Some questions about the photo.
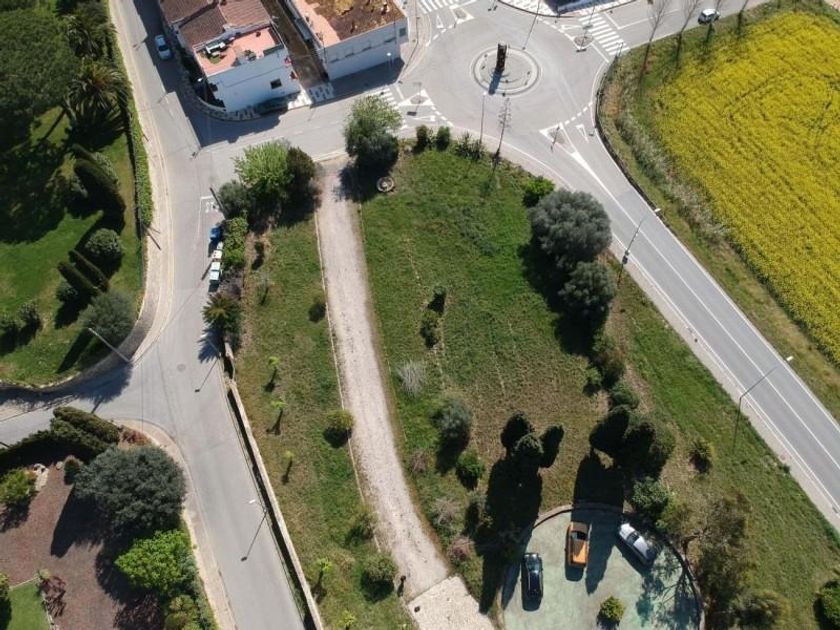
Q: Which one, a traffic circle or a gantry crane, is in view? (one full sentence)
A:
It is a traffic circle that can be seen here.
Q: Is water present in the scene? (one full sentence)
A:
No, water can't be seen anywhere here.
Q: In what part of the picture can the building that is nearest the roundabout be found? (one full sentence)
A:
The building that is nearest the roundabout is located in the top region of the scene.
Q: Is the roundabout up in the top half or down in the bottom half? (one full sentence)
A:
The roundabout sits in the top half of the picture.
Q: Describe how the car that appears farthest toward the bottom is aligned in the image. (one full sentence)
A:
The car that appears farthest toward the bottom runs up and down in the image.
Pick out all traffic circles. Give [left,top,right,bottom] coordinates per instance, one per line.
[421,13,594,136]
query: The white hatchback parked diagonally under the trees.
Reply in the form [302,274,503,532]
[617,522,658,565]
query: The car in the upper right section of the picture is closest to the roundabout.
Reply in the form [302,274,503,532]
[696,9,722,25]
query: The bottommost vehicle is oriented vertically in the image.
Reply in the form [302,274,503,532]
[522,553,542,598]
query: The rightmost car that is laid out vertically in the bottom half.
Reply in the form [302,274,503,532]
[568,523,590,568]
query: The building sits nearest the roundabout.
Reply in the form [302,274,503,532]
[275,0,409,80]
